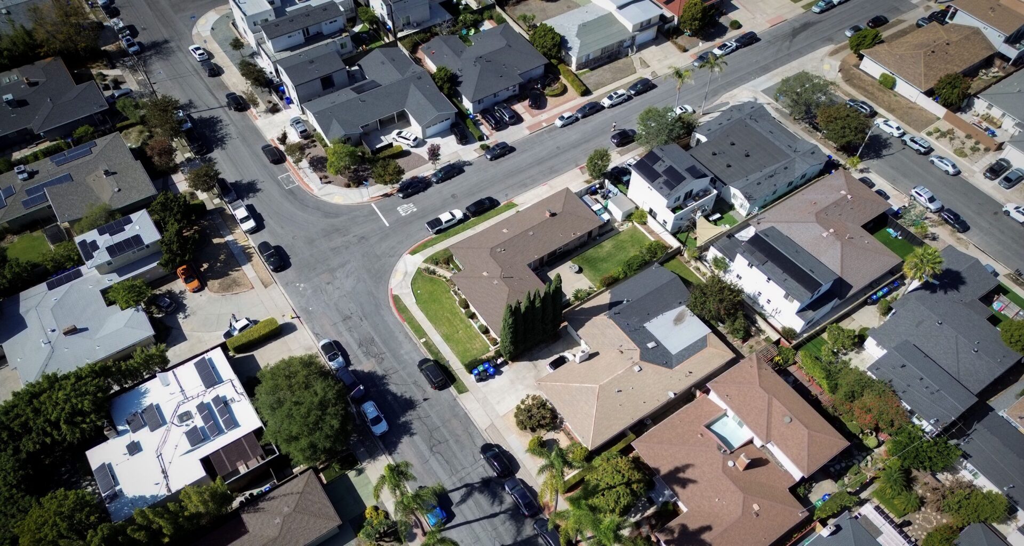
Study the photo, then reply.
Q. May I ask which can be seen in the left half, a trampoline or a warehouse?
trampoline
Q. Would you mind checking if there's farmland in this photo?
No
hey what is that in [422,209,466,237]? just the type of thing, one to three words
truck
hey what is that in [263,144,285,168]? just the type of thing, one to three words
car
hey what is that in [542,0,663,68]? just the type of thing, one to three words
house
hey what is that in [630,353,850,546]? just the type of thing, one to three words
house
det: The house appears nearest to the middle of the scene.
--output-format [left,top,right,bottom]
[449,187,604,337]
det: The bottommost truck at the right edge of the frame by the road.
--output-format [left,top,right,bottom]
[975,255,1014,289]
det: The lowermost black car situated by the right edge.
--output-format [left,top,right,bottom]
[933,206,974,236]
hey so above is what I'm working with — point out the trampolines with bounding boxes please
[34,217,72,246]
